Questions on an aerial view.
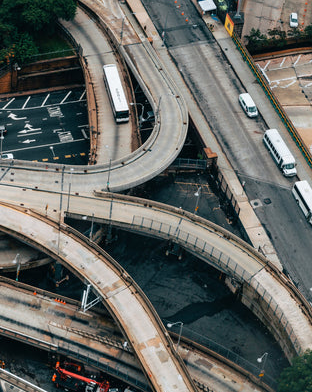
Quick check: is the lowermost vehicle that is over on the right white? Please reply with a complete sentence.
Yes, white is the color of the lowermost vehicle that is over on the right.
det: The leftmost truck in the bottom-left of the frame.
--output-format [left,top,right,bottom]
[48,360,108,392]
